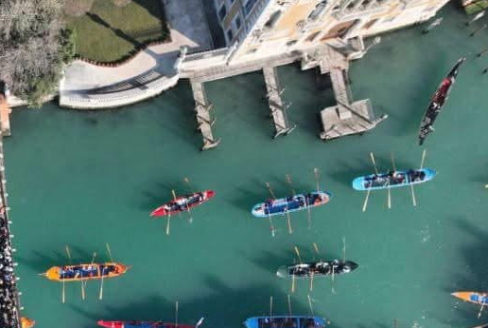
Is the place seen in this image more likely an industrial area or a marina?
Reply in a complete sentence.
This image shows a marina.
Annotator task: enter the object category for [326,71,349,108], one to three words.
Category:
pier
